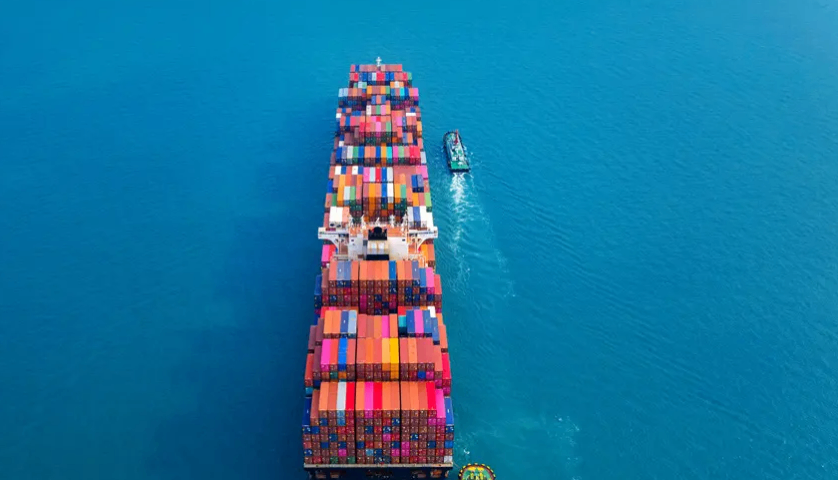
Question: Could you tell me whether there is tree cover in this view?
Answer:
No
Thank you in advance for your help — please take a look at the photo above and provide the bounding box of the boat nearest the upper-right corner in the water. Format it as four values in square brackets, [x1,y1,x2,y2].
[443,128,471,172]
